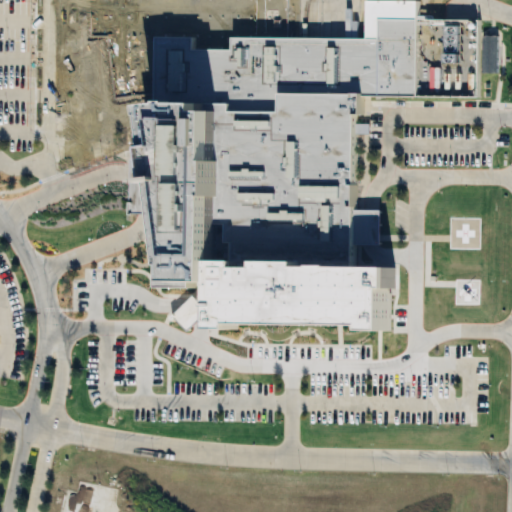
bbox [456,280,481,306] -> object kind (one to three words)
helipad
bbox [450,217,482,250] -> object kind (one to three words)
helipad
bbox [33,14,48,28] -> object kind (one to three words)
vehicle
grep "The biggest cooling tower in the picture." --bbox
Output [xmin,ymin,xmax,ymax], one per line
[444,23,461,54]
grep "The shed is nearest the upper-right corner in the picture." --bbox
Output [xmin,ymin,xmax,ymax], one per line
[482,35,500,73]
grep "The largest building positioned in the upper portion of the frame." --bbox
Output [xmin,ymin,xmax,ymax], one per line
[126,1,422,330]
